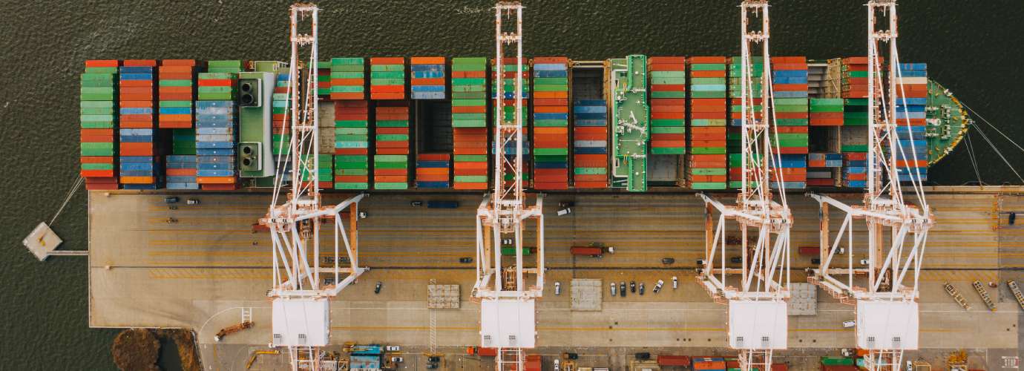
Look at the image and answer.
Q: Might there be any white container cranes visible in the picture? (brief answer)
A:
Yes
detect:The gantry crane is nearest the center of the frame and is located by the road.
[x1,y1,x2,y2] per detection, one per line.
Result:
[466,1,552,371]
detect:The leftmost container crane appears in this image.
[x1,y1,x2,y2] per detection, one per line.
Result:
[255,1,377,371]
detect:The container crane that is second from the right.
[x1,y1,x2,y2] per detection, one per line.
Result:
[691,1,798,371]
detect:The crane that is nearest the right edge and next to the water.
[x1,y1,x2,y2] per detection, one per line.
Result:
[800,1,938,371]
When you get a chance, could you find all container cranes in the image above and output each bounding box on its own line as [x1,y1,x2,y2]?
[255,1,377,371]
[691,1,798,371]
[466,1,552,371]
[800,1,938,371]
